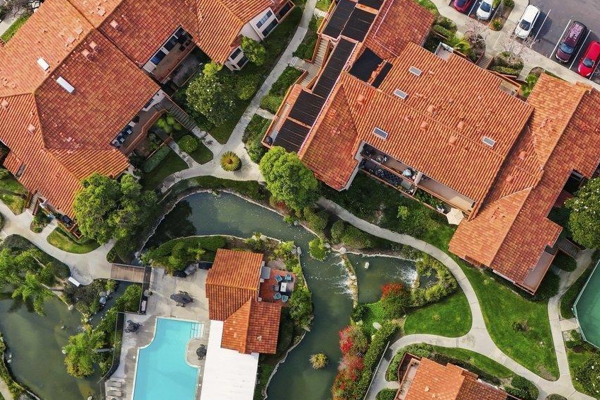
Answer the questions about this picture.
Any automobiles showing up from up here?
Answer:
Yes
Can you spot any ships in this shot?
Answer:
No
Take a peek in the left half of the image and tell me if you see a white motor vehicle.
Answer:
No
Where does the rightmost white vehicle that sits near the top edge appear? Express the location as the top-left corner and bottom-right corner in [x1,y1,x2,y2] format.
[513,2,541,42]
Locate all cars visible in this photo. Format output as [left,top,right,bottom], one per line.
[473,0,495,24]
[513,2,541,42]
[448,0,473,23]
[554,20,588,65]
[576,40,600,80]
